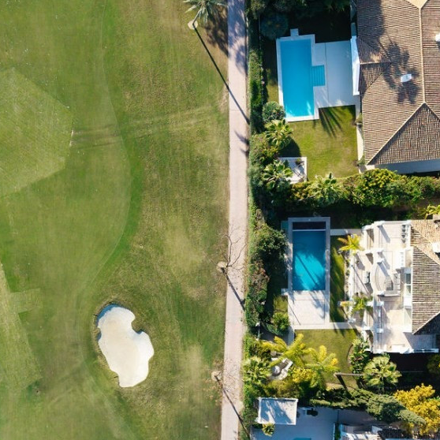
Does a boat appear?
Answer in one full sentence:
No, the photo shows no boat.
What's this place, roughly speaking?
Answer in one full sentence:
The area seen from above is a golf course.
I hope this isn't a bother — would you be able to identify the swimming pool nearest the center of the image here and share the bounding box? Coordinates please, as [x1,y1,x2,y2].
[289,217,331,294]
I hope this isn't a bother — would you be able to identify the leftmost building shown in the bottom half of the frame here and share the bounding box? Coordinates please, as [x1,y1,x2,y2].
[254,398,298,425]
